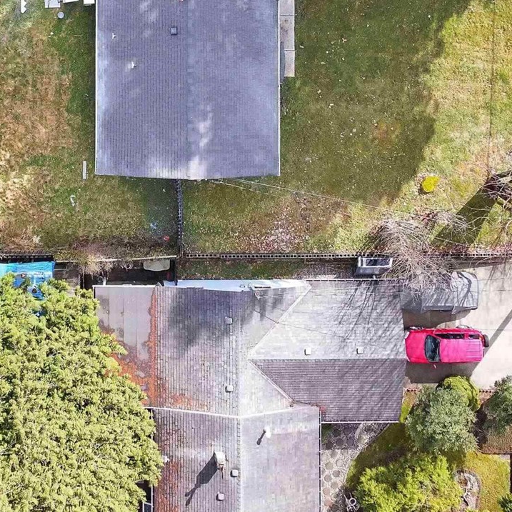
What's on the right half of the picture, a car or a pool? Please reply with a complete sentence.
The one visible on the right half of the picture is a car.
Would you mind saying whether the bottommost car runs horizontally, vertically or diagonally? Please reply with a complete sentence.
What the image shows is the bottommost car lying horizontally.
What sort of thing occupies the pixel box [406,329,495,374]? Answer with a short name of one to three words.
car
